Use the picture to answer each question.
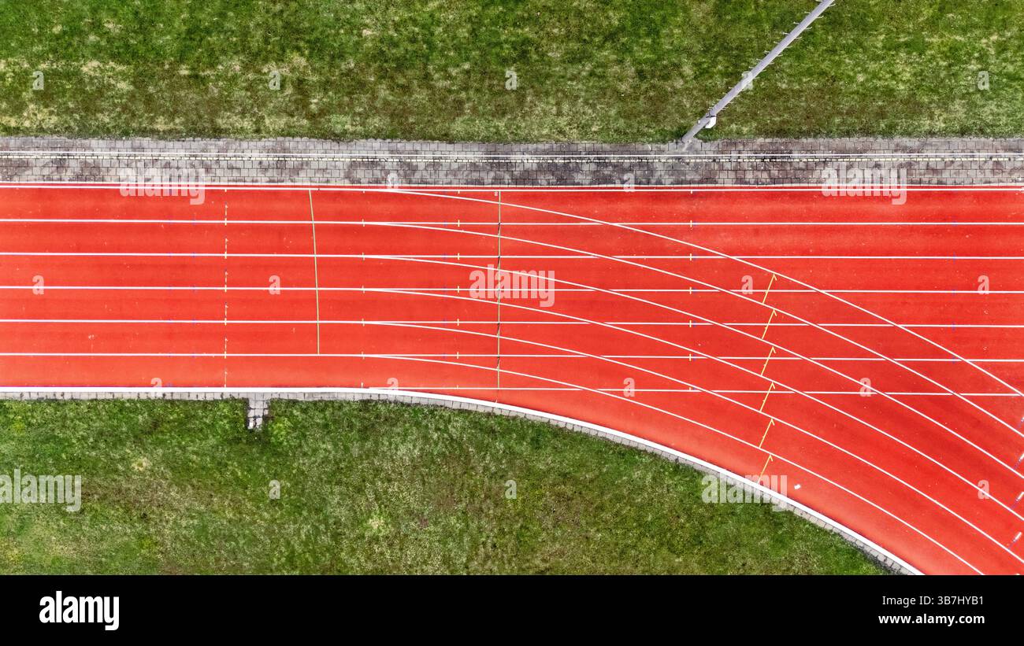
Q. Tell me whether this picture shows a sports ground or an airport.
sports ground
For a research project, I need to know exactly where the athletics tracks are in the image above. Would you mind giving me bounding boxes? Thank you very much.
[0,182,1024,639]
